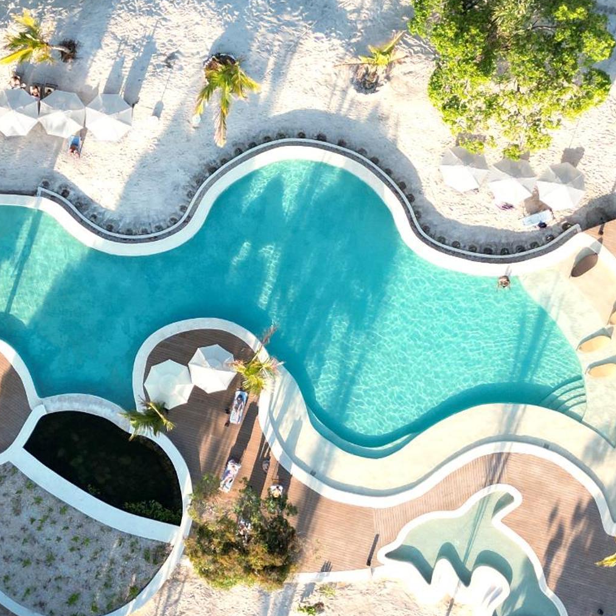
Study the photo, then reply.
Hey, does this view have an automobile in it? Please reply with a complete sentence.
No, I can see no automobile in this picture.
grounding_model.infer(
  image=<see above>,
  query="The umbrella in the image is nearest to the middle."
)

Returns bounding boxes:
[189,344,238,394]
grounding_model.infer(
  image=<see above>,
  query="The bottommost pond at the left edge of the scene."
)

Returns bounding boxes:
[29,411,182,520]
